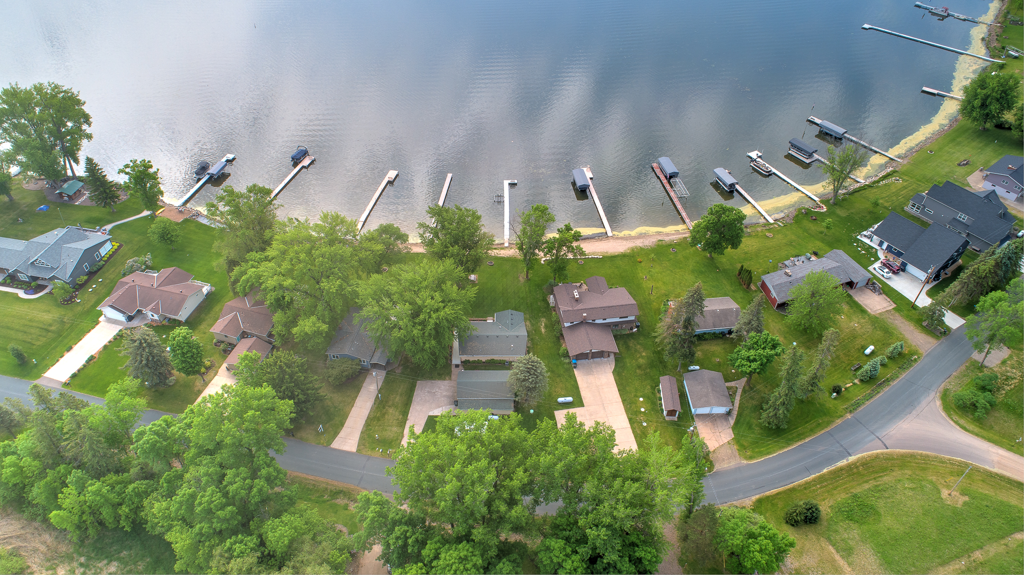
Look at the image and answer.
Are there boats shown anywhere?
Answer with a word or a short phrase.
Yes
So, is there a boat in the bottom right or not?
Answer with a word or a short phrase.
No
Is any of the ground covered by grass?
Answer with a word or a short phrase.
Yes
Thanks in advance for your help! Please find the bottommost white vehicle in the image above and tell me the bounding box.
[873,265,893,280]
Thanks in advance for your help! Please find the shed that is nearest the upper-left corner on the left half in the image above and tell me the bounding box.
[56,179,87,201]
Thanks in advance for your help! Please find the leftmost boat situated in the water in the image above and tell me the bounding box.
[192,161,212,179]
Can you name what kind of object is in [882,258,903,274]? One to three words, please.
car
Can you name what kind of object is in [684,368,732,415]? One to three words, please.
building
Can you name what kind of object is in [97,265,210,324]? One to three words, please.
house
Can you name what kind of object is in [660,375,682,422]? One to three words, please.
shed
